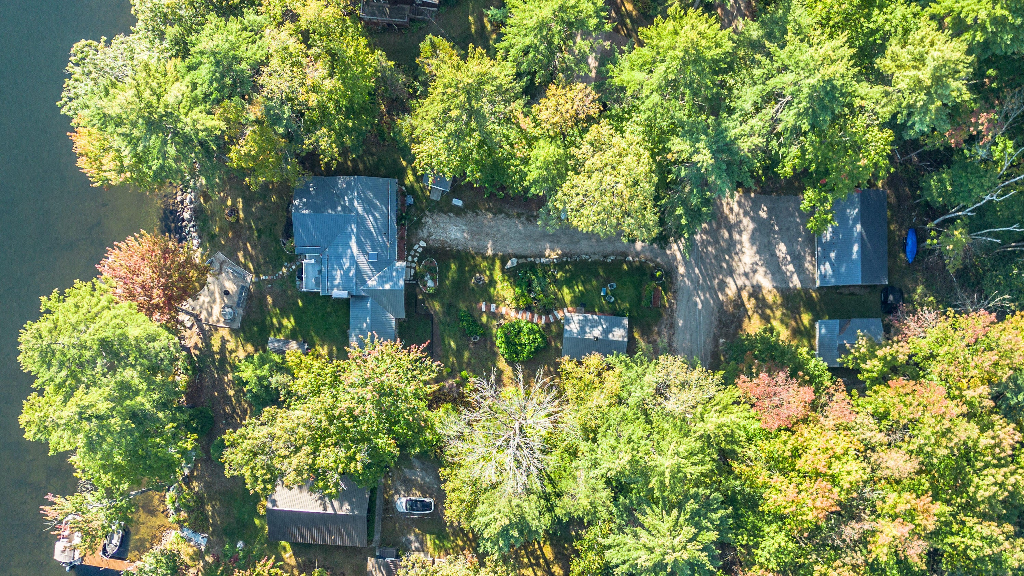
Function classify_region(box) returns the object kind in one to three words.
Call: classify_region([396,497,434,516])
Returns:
car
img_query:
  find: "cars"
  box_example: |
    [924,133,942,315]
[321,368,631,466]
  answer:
[396,497,434,516]
[881,282,903,319]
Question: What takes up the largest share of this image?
trees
